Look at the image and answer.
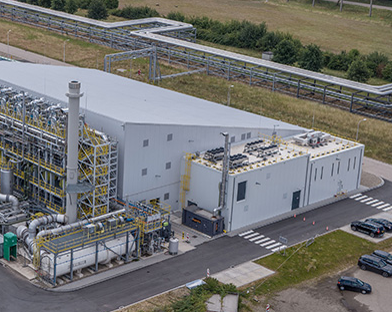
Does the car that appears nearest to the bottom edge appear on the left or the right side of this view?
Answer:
right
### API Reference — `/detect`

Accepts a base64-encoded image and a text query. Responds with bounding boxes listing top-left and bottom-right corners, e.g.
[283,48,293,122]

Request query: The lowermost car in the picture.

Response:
[336,274,371,293]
